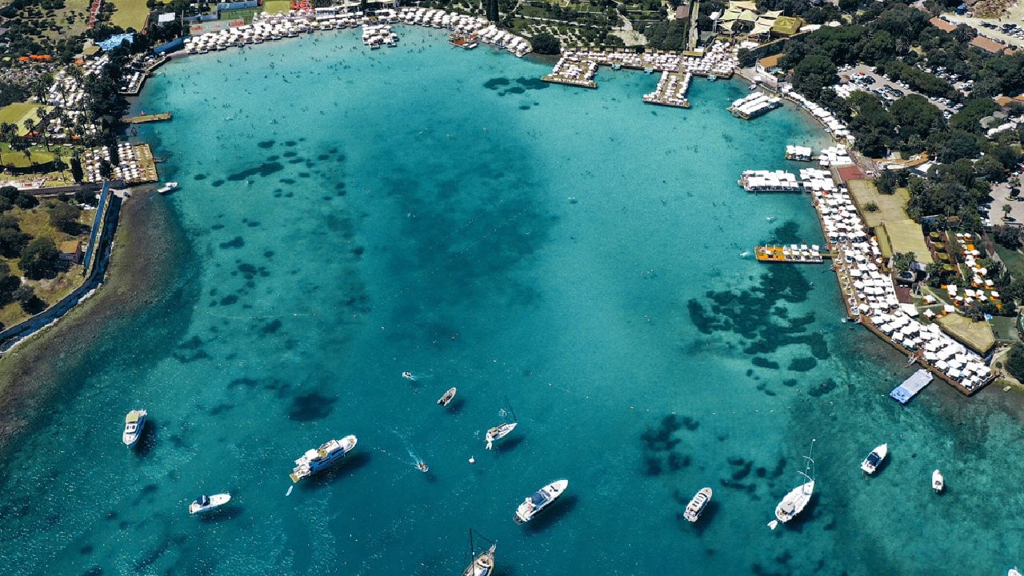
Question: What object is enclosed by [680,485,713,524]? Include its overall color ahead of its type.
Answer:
white boat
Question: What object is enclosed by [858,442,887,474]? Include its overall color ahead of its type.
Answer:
white boat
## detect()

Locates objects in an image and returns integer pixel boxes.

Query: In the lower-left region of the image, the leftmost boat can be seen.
[125,407,148,442]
